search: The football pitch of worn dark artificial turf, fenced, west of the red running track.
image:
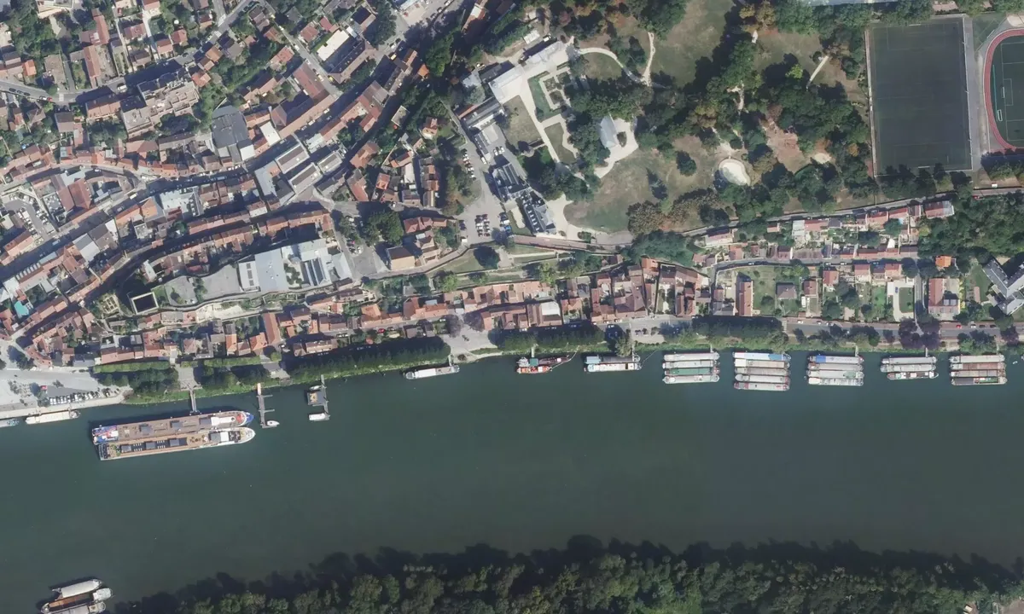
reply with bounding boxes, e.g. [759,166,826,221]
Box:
[865,17,973,177]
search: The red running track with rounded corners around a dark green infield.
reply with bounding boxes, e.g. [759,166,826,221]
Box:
[984,30,1024,151]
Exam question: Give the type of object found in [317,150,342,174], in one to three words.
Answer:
building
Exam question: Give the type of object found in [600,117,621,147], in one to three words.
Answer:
building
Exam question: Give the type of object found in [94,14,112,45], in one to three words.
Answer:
house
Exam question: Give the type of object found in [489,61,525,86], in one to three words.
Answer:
house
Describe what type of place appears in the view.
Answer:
residential area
